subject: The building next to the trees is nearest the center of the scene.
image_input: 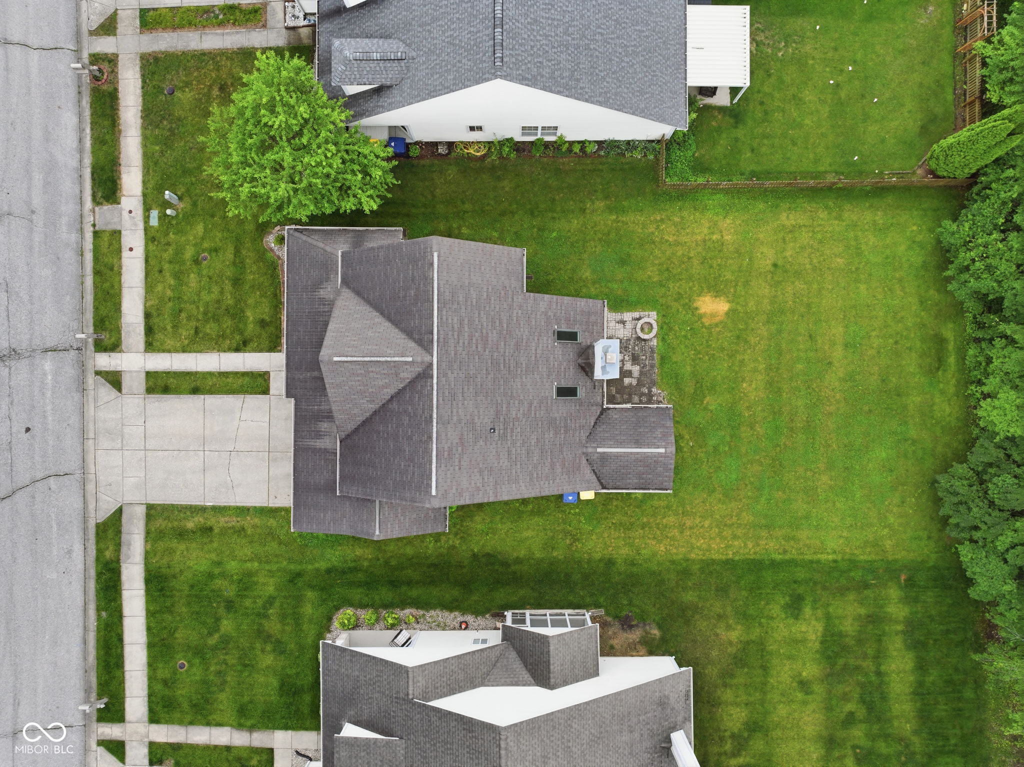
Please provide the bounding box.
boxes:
[283,226,676,541]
